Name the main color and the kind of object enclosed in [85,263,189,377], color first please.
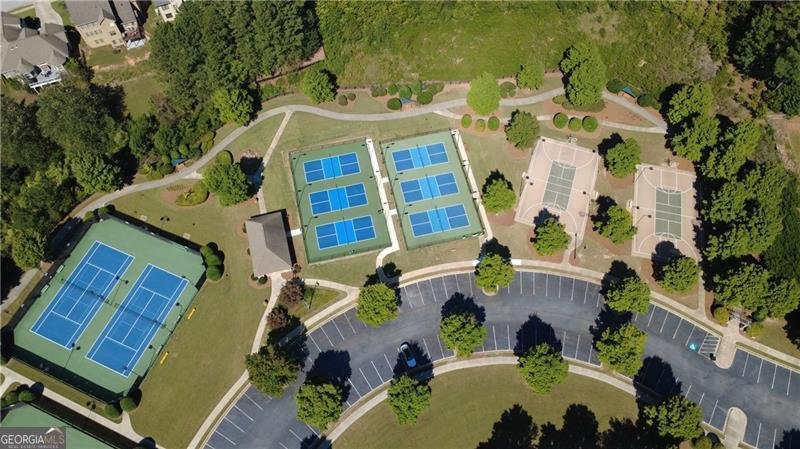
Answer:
blue tennis court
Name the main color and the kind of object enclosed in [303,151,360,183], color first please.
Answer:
blue sports court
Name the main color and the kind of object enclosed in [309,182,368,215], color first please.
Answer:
blue sports court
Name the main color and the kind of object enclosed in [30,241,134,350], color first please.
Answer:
blue tennis court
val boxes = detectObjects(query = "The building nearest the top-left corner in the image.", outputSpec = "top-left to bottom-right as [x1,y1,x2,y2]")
[0,15,77,89]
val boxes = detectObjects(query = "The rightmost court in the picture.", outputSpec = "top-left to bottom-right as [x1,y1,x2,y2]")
[628,162,704,271]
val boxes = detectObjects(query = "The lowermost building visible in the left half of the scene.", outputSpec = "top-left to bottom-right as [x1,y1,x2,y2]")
[245,212,293,277]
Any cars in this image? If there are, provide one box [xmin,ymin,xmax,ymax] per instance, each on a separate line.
[401,345,416,365]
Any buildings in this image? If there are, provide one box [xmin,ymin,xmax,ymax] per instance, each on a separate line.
[75,0,156,56]
[153,0,184,23]
[0,15,77,89]
[245,212,293,277]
